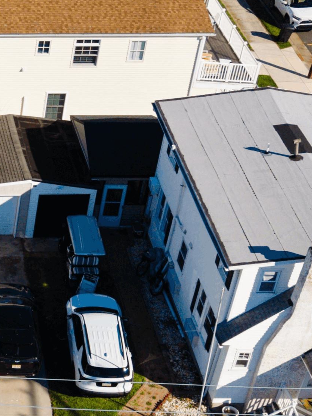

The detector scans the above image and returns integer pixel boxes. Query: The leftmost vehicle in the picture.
[0,278,46,376]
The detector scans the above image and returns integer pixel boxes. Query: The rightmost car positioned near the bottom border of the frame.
[64,294,134,398]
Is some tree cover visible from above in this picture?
No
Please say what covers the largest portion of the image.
buildings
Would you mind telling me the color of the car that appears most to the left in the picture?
black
